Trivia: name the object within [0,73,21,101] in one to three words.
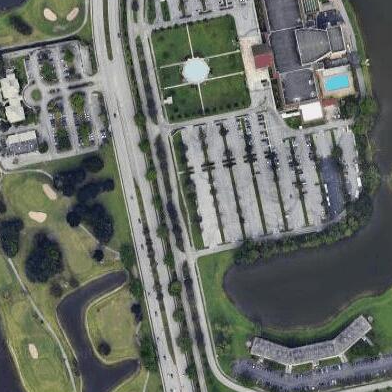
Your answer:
building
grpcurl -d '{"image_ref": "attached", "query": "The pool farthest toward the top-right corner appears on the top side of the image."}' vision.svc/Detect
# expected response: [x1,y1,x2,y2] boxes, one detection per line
[318,65,357,100]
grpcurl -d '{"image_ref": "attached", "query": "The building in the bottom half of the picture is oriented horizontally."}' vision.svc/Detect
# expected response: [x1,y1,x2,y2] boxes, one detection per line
[251,316,372,370]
